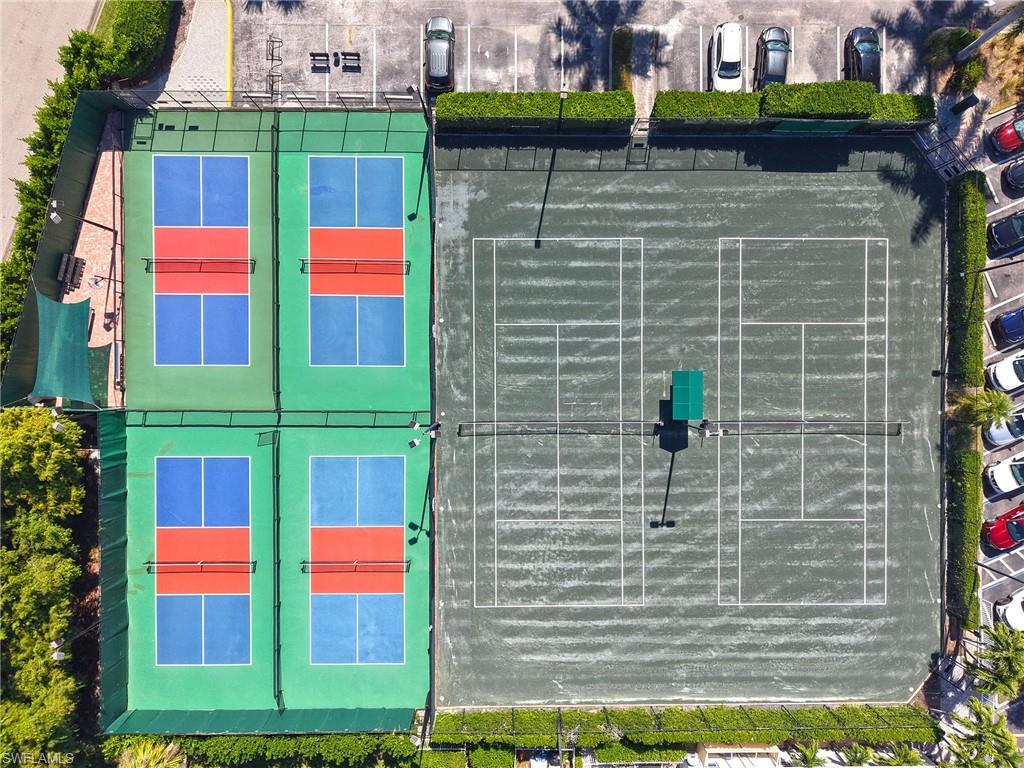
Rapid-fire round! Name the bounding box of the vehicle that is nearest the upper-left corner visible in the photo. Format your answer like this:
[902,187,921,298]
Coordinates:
[422,17,458,96]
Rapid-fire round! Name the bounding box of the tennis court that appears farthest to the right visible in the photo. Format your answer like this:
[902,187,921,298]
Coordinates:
[681,136,945,704]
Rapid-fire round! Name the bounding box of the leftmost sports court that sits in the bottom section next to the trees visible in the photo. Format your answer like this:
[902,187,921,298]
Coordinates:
[128,413,278,709]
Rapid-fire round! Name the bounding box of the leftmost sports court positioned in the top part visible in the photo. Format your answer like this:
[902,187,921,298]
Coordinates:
[123,110,277,411]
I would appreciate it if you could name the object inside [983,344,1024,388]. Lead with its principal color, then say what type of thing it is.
white car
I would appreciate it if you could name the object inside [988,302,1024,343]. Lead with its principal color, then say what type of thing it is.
blue car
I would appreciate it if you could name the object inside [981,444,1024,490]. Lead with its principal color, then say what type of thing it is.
white car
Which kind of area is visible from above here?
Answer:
sports ground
